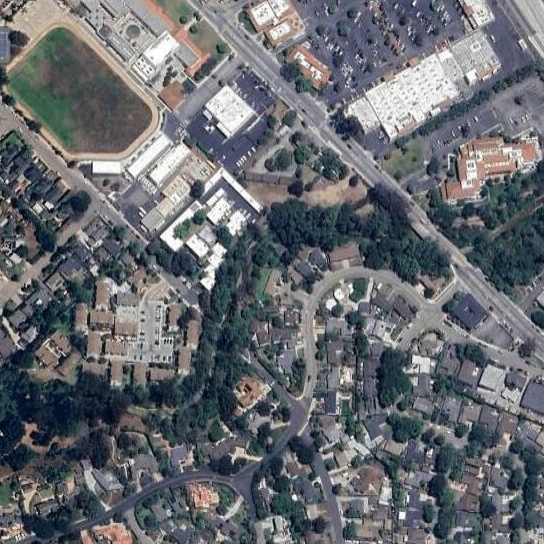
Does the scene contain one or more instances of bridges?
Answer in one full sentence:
Yes, there's a bridge here.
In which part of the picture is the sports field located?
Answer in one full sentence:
The sports field sits in the top left section of the image.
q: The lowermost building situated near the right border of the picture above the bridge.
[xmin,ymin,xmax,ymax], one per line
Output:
[444,136,542,201]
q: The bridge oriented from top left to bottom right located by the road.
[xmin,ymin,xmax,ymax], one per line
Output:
[404,200,463,259]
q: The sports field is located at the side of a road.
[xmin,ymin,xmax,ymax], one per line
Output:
[1,21,158,160]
